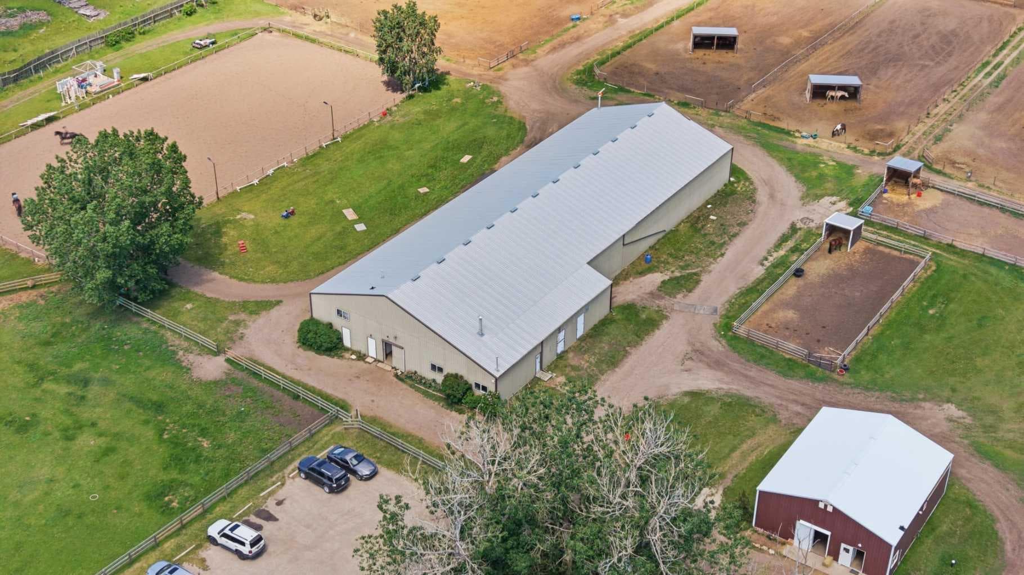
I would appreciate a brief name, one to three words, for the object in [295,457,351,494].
car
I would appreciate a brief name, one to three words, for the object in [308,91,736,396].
barn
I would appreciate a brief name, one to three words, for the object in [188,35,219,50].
vehicle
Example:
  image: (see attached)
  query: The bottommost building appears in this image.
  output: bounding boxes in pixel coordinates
[750,408,956,575]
